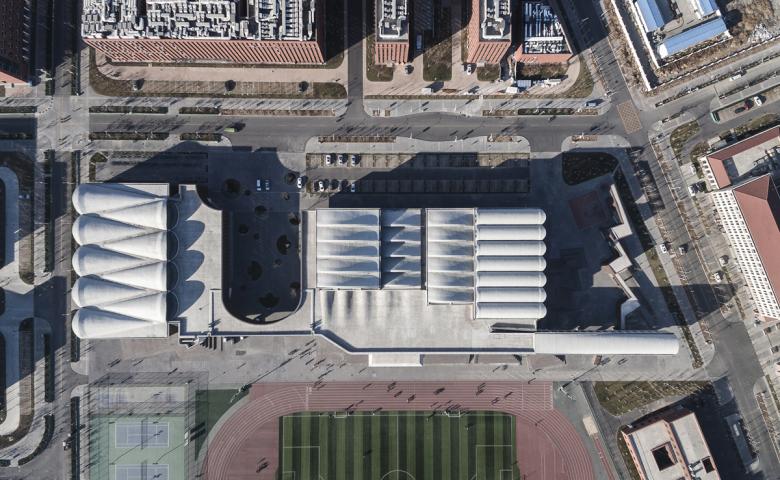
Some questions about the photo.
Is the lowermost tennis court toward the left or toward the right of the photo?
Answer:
left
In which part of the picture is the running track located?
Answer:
bottom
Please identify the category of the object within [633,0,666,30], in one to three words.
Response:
shed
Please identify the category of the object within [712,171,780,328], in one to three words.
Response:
building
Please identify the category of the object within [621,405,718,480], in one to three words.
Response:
building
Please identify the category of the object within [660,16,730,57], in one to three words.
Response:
shed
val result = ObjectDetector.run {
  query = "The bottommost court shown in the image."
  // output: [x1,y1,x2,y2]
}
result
[88,414,184,480]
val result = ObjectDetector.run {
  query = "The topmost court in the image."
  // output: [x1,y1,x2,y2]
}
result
[88,384,190,413]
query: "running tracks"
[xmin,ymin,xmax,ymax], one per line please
[195,382,617,480]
